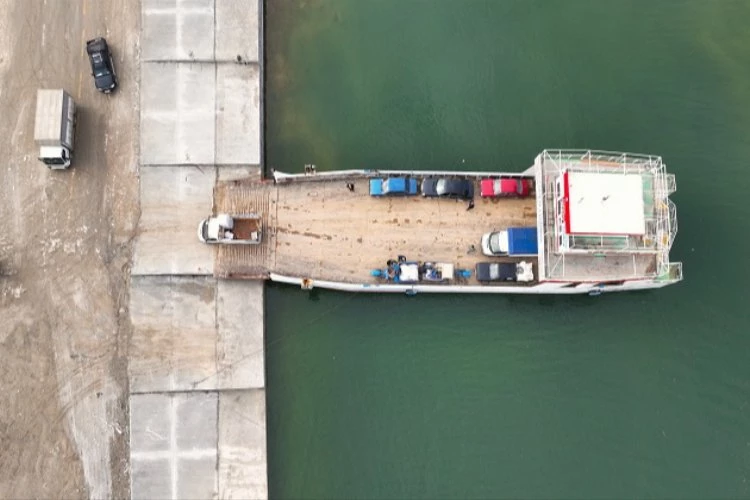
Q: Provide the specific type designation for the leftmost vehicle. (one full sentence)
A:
What you see as the leftmost vehicle is a truck.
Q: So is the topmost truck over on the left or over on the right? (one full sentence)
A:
It is on the left.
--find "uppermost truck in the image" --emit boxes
[85,36,120,95]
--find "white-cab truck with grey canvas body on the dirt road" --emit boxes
[34,89,83,173]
